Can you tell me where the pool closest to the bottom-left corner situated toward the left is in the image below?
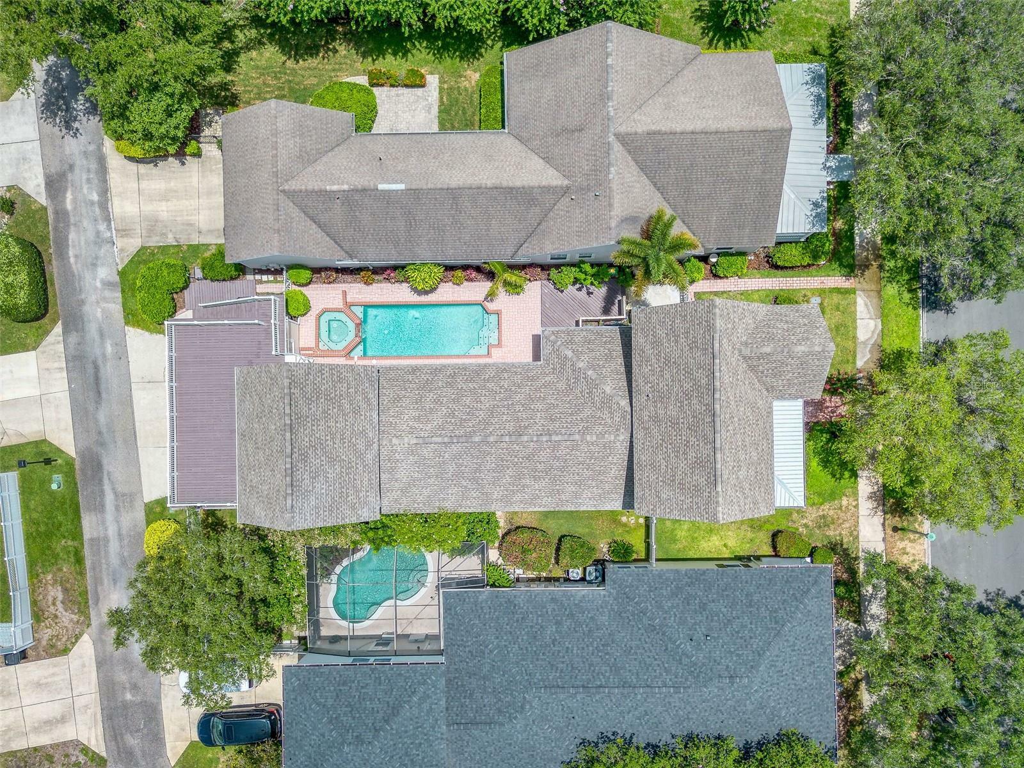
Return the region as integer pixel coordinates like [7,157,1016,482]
[328,544,433,628]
